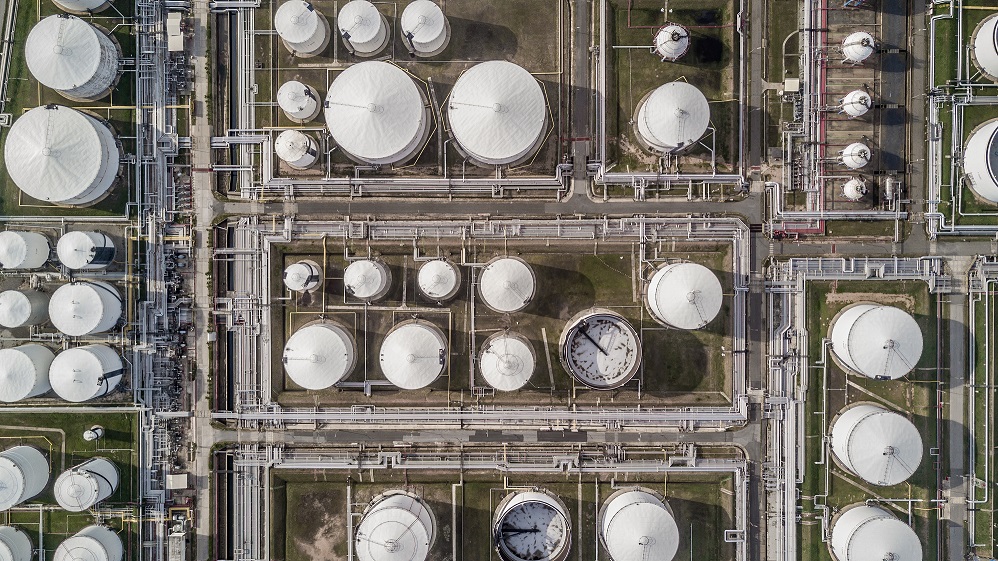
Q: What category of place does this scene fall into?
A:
industrial area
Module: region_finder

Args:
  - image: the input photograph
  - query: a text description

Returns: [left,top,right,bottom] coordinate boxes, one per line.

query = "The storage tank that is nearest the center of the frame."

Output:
[462,246,537,315]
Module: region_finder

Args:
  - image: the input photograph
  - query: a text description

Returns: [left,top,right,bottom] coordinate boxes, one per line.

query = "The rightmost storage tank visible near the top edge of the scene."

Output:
[967,12,998,85]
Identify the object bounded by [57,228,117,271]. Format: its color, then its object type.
white storage tank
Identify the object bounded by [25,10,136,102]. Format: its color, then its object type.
white storage tank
